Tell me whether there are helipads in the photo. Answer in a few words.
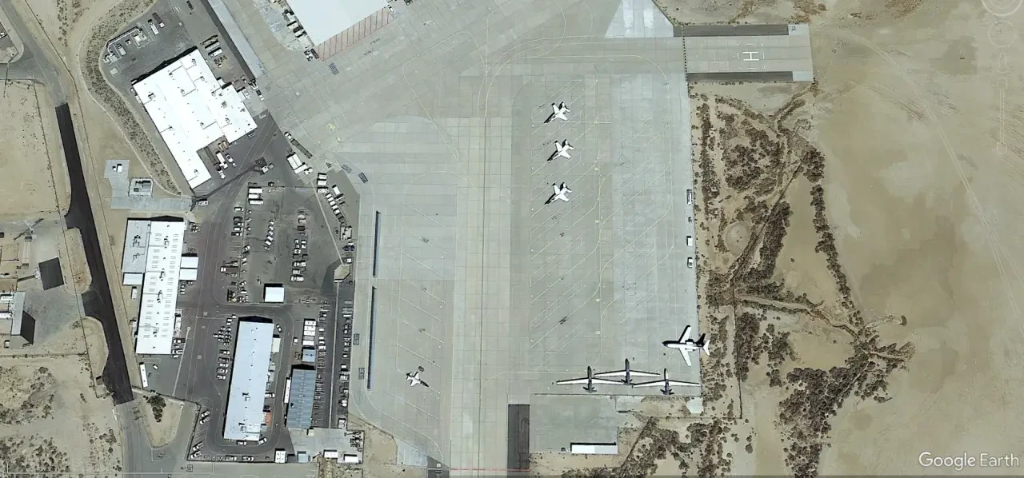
Yes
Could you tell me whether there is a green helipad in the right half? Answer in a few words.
No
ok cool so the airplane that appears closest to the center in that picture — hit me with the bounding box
[545,179,574,203]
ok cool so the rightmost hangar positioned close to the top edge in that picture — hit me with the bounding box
[286,0,387,45]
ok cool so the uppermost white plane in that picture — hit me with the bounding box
[545,98,573,122]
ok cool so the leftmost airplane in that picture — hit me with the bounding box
[406,373,428,387]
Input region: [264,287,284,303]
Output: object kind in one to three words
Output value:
building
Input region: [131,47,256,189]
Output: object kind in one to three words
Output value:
building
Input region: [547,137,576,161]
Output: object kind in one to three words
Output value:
airplane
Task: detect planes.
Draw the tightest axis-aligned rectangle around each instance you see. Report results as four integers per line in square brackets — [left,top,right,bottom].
[545,179,574,203]
[547,137,576,161]
[594,359,661,384]
[664,328,713,368]
[633,369,700,394]
[406,373,428,387]
[556,367,623,392]
[545,98,573,122]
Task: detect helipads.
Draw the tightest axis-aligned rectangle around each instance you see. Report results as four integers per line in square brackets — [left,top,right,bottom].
[674,23,814,82]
